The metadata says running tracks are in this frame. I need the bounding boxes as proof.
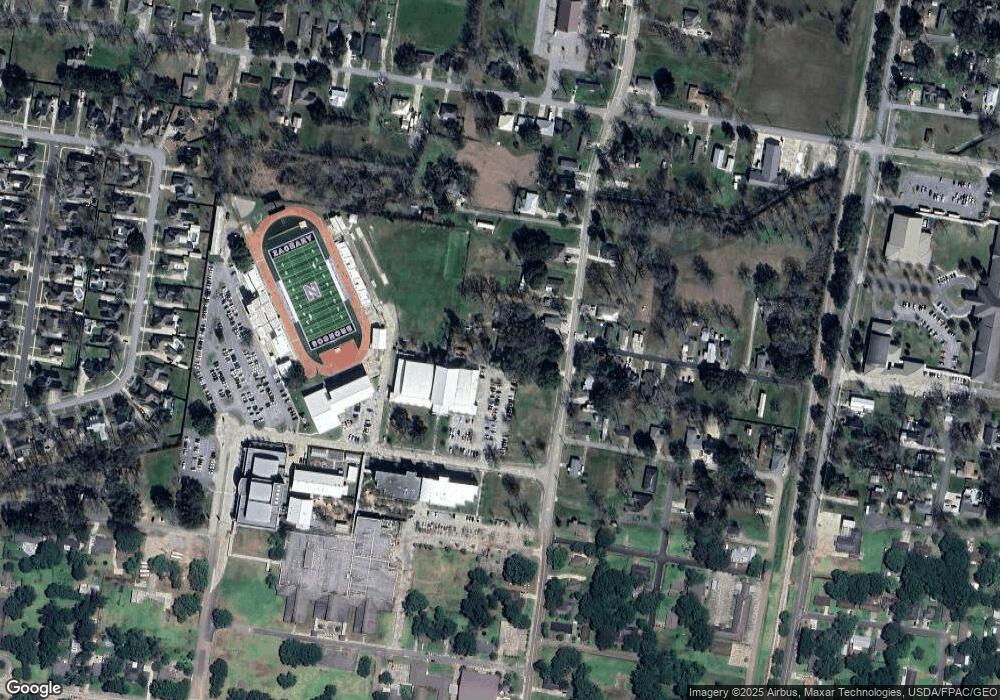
[243,206,372,380]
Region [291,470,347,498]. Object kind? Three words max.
building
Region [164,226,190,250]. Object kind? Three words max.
house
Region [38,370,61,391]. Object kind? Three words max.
house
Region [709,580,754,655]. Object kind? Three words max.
building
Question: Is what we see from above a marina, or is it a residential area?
residential area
